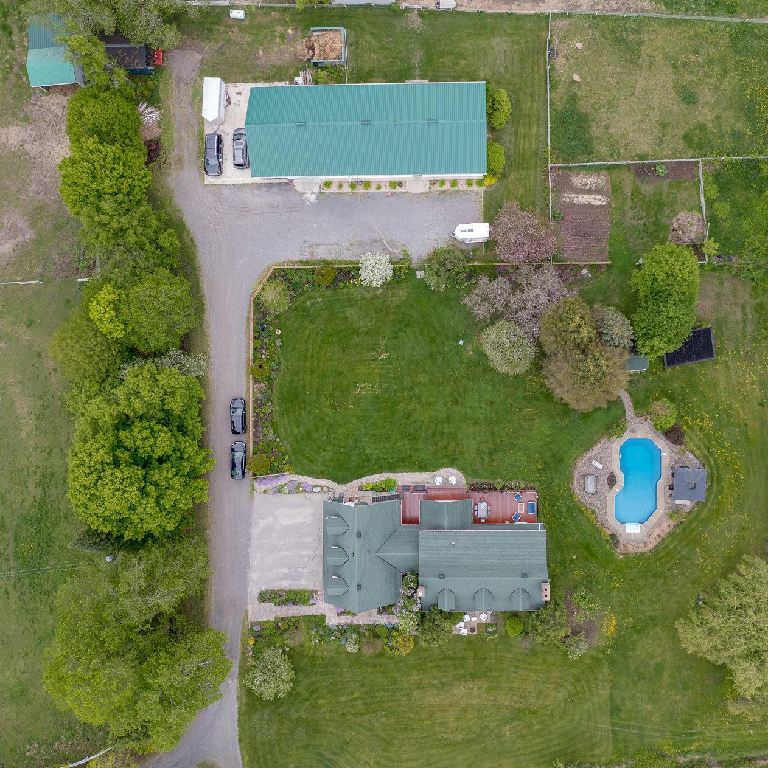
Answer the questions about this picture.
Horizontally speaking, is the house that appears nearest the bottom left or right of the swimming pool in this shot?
on the left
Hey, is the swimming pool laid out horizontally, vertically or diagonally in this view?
vertically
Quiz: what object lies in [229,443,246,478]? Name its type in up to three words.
car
